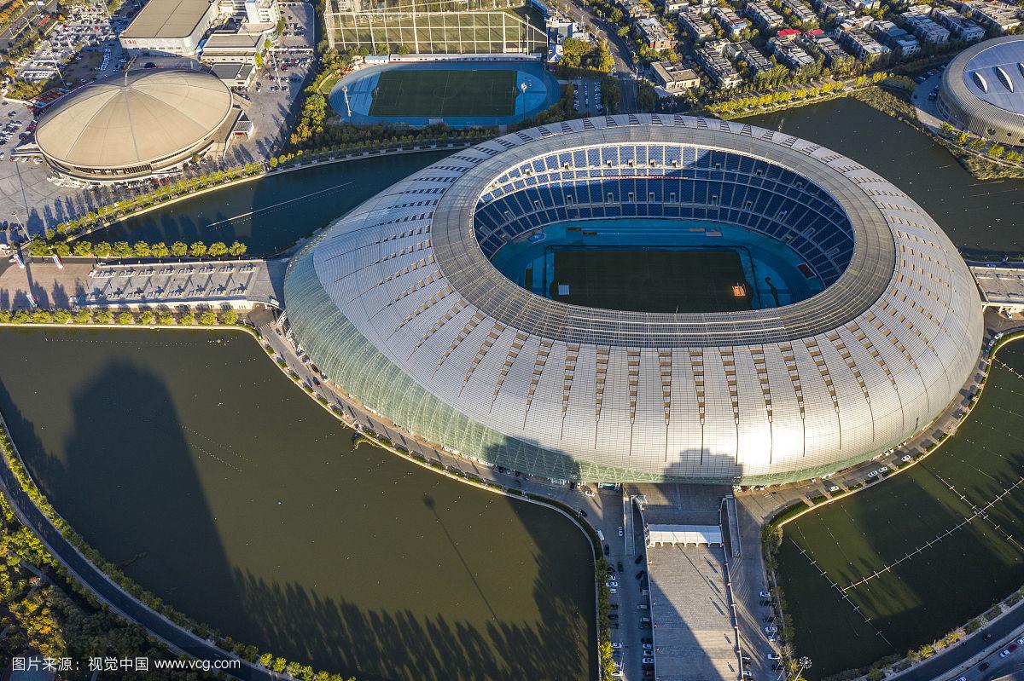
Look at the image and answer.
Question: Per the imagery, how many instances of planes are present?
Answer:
none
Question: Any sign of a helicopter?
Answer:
No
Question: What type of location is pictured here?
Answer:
sports ground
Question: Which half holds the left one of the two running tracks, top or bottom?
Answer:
top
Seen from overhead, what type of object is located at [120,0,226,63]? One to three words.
building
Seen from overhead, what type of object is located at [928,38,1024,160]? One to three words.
stadium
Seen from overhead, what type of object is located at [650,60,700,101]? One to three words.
building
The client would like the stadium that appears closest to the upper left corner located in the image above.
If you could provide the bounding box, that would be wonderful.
[12,67,252,185]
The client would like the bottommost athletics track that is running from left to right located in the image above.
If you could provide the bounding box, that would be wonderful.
[488,217,823,308]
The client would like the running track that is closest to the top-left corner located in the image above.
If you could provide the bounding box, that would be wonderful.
[328,54,564,120]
